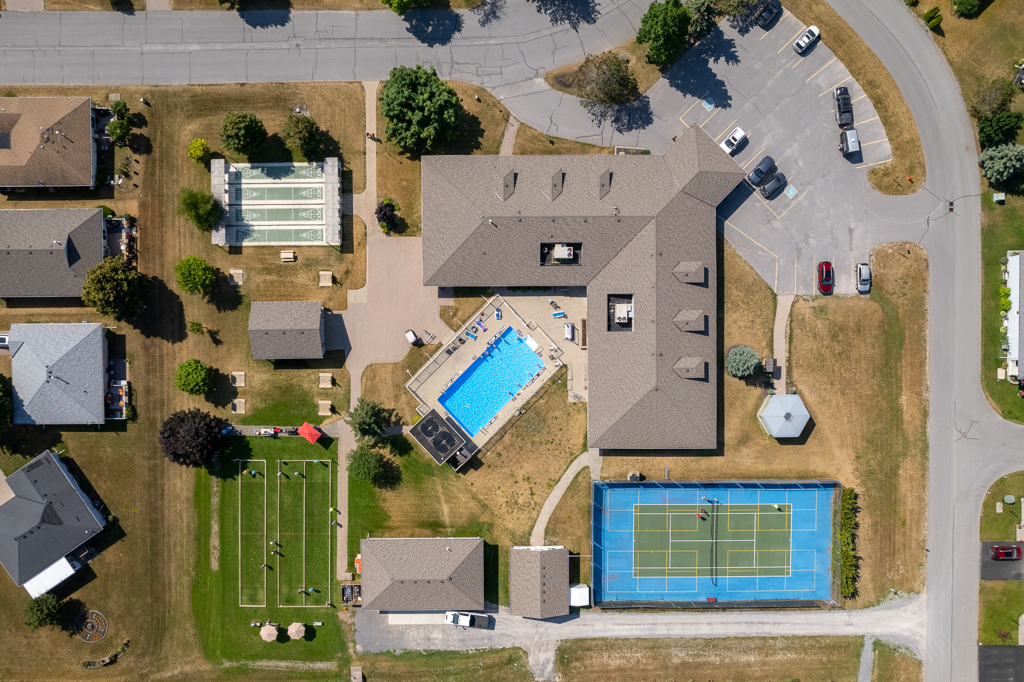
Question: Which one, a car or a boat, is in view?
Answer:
car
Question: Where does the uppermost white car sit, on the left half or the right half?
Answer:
right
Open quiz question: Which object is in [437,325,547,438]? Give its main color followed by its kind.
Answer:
blue swimming pool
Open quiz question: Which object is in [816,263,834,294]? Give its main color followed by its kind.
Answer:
red car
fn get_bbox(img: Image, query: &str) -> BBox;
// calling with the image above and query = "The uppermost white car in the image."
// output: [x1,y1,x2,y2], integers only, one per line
[792,24,820,55]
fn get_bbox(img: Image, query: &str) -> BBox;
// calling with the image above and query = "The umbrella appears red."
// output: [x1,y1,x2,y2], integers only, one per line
[297,421,322,444]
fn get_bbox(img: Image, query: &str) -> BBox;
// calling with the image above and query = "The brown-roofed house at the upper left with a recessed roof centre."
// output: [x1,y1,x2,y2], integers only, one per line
[0,96,101,187]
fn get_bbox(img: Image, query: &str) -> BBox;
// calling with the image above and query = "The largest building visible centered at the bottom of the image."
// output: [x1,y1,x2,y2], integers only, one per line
[360,534,485,611]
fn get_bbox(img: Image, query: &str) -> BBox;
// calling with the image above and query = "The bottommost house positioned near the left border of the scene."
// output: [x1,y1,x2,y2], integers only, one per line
[0,449,107,595]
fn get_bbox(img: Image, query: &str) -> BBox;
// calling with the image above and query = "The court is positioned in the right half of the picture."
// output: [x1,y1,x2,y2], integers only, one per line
[593,480,835,601]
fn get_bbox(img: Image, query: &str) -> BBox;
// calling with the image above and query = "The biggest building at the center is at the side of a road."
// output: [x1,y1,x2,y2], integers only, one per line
[421,121,747,450]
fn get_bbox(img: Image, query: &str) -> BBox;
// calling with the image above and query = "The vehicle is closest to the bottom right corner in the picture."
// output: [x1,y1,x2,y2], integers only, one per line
[988,545,1021,561]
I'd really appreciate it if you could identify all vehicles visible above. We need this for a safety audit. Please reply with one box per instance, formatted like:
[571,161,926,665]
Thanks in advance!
[747,155,776,186]
[855,263,872,294]
[832,87,853,127]
[405,328,419,346]
[760,172,787,200]
[816,263,834,294]
[754,0,783,29]
[444,611,489,629]
[792,24,820,55]
[719,127,746,154]
[0,334,10,346]
[988,545,1021,561]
